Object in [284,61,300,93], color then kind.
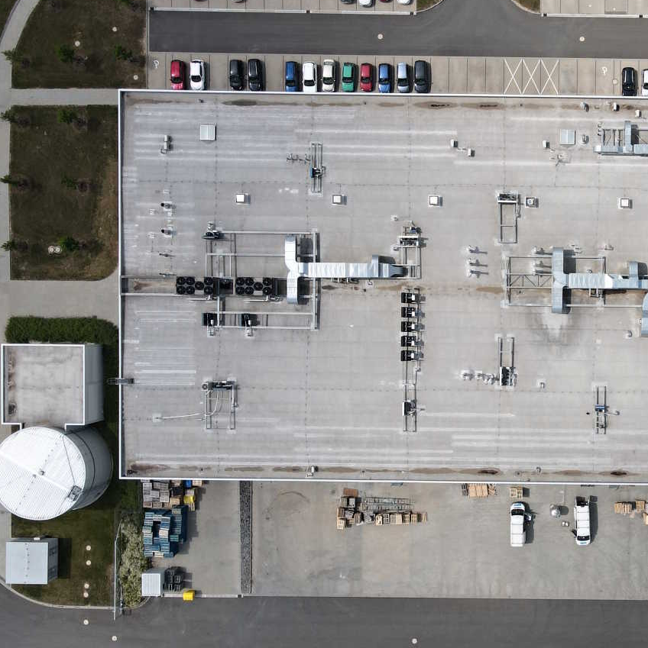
blue car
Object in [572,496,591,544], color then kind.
white vehicle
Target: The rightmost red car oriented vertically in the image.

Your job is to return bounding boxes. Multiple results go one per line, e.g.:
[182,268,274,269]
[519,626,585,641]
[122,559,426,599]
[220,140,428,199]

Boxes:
[359,63,374,93]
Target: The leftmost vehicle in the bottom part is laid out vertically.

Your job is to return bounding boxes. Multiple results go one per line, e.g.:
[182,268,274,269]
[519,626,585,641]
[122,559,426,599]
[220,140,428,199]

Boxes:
[510,501,531,547]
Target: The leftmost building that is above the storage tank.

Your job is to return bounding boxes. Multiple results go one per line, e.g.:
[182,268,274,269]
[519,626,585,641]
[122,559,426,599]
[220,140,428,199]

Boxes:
[1,345,105,430]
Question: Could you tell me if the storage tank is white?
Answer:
Yes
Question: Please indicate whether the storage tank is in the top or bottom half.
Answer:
bottom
